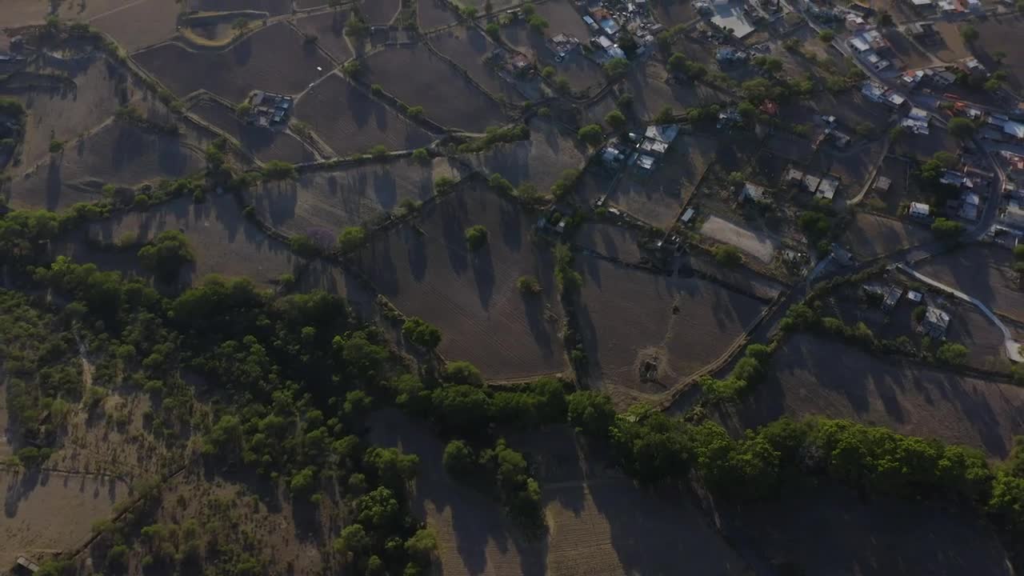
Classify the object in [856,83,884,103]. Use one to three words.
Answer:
house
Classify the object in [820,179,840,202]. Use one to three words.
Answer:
house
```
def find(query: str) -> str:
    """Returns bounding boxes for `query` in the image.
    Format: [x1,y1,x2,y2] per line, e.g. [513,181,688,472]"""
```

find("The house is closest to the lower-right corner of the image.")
[918,307,950,337]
